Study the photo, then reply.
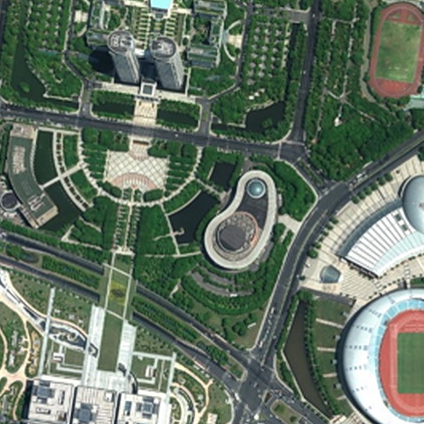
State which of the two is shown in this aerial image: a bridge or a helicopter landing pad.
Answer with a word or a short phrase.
bridge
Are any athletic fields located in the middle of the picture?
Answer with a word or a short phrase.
No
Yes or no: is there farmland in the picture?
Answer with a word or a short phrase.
No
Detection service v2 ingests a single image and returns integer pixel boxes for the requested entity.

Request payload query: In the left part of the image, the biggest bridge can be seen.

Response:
[99,258,135,322]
